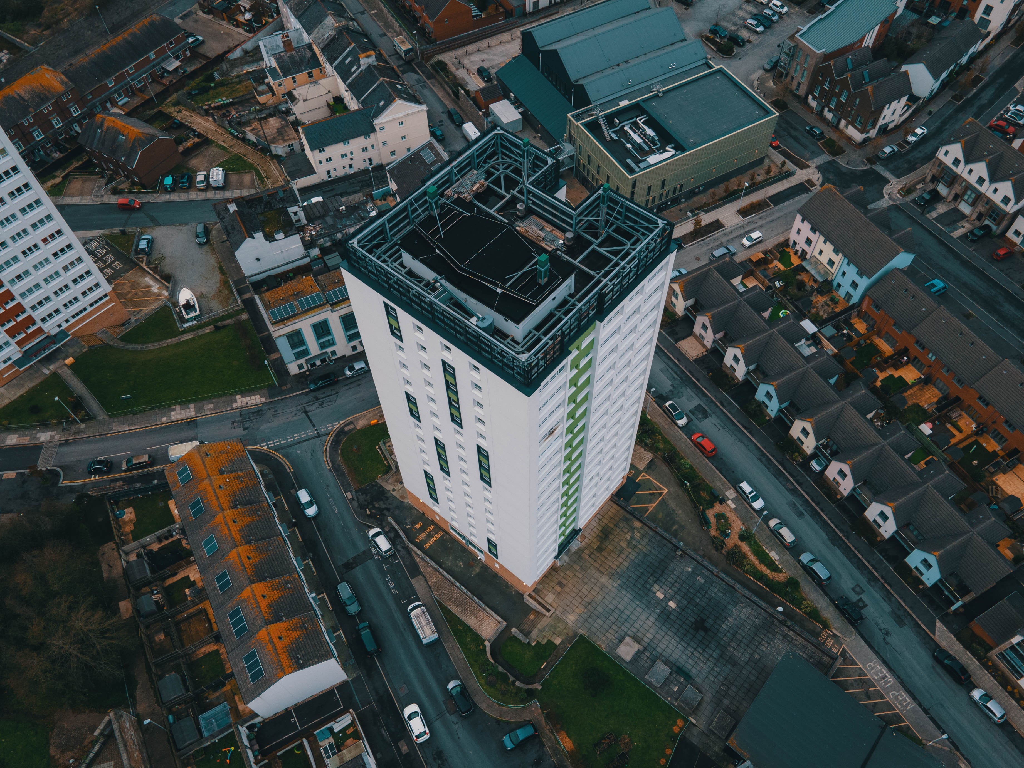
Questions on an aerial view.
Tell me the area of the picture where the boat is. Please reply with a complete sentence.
The boat is located in the left region of the scene.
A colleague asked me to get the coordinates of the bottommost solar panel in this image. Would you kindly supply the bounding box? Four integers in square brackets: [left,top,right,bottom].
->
[241,649,264,686]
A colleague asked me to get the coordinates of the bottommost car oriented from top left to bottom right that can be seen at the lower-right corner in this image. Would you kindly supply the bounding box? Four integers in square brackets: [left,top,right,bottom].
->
[967,687,1008,727]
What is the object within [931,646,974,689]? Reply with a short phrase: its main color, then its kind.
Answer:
black car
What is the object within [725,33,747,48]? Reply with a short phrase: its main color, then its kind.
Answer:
black car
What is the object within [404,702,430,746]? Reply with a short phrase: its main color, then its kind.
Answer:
white car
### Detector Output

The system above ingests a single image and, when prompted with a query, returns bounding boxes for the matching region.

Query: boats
[177,284,199,321]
